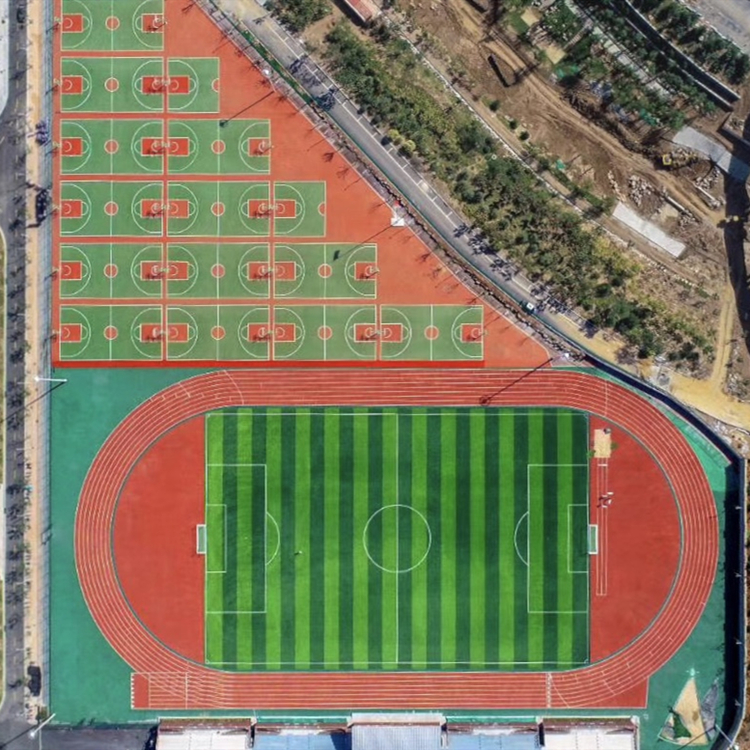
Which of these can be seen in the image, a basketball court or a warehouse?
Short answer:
basketball court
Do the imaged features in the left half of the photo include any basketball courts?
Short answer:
Yes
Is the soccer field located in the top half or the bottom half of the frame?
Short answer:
bottom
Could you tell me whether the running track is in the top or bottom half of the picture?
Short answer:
bottom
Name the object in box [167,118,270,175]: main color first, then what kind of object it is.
green basketball court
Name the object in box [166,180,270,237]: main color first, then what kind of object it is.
green basketball court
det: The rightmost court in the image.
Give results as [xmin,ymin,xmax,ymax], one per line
[379,304,483,360]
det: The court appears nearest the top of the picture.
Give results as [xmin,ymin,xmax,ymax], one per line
[61,0,164,51]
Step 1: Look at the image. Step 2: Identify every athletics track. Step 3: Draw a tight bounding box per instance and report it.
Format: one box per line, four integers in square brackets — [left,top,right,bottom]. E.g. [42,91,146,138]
[74,369,719,709]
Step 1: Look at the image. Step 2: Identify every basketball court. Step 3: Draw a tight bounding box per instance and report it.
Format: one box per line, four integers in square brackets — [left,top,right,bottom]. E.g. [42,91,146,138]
[61,56,164,113]
[166,180,270,237]
[273,180,326,237]
[379,304,483,360]
[60,180,163,237]
[59,242,163,299]
[272,304,376,360]
[60,118,163,175]
[167,56,220,113]
[166,304,270,360]
[166,242,270,299]
[61,0,164,51]
[59,304,163,360]
[272,242,376,299]
[167,118,270,175]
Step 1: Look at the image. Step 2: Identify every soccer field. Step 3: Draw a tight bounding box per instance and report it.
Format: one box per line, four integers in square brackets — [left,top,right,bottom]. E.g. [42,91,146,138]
[197,408,597,670]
